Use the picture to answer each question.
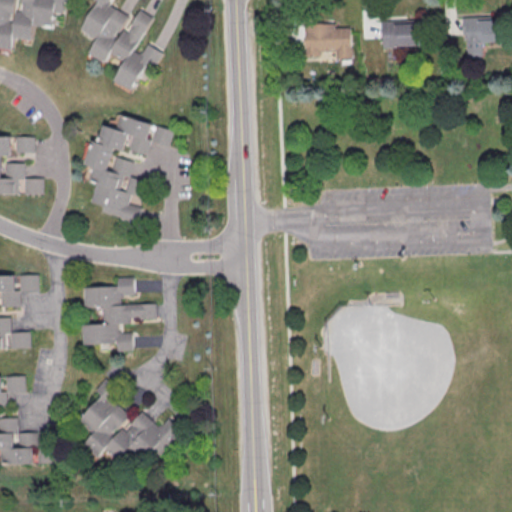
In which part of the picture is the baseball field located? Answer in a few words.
bottom right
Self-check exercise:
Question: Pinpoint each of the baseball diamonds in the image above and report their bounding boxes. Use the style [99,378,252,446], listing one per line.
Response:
[326,305,512,512]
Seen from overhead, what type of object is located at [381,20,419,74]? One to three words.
house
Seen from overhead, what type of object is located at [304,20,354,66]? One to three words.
house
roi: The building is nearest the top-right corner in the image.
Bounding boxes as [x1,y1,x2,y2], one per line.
[458,12,501,60]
